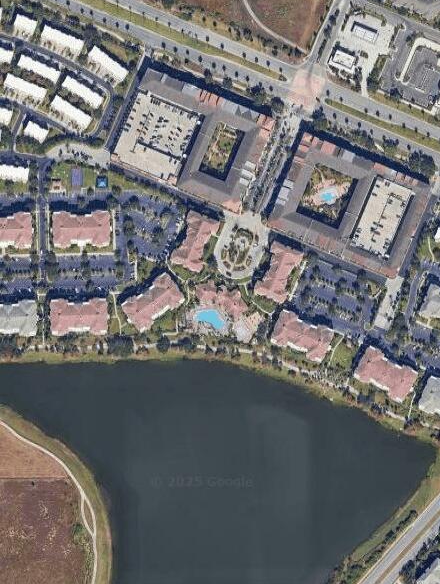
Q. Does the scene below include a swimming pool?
Yes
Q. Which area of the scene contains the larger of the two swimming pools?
center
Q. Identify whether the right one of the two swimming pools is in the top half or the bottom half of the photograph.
top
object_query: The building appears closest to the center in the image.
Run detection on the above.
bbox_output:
[193,280,250,318]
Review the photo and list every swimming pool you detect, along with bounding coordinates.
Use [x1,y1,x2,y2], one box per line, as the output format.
[311,187,340,208]
[185,304,240,343]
